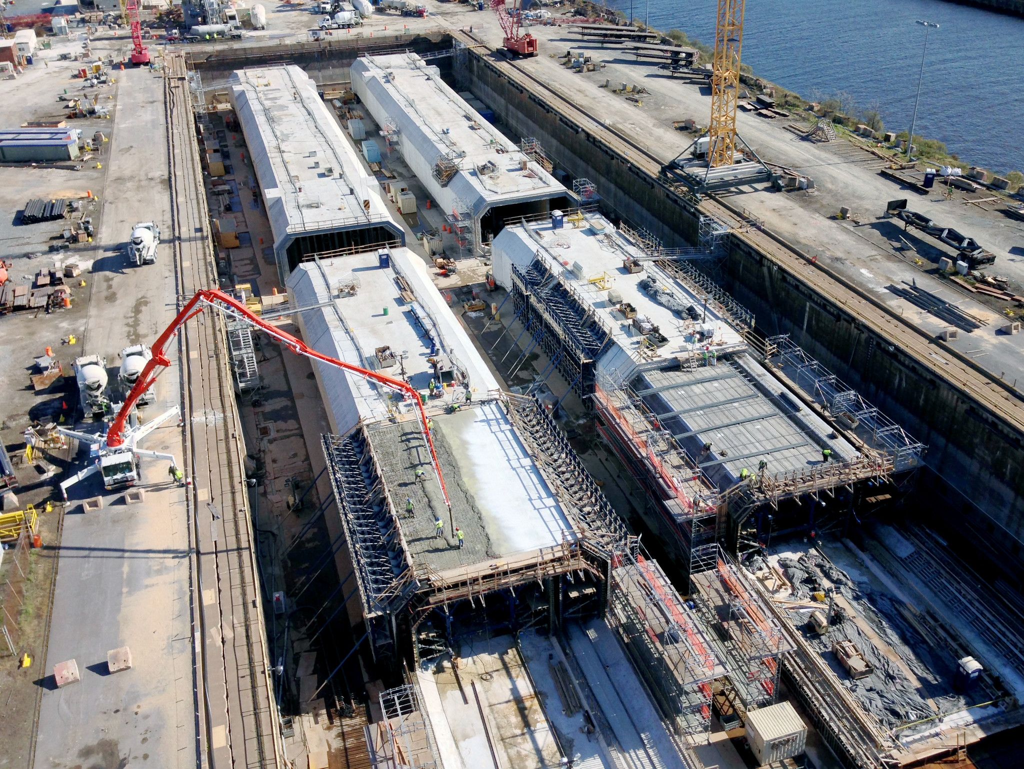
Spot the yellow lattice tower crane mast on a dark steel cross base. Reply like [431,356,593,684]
[656,0,776,199]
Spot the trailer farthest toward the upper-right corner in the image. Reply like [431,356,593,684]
[883,193,1003,268]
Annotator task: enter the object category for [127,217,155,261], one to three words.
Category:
truck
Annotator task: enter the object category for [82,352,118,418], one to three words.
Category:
truck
